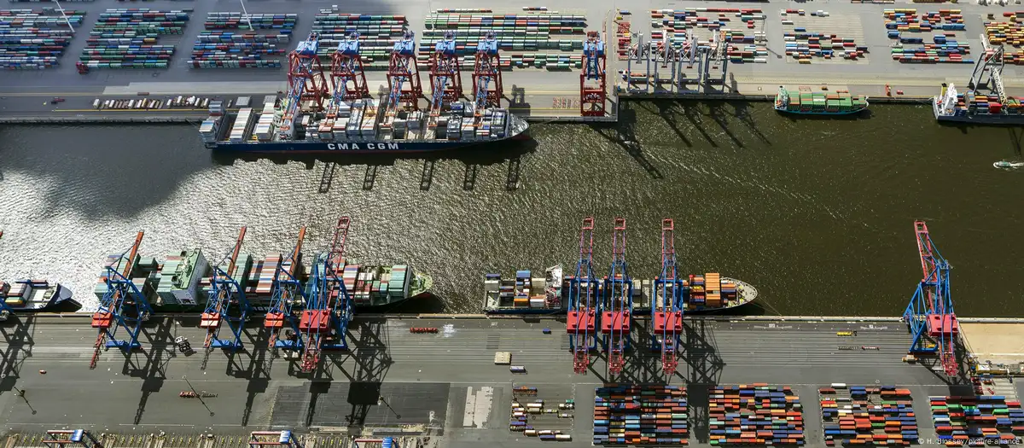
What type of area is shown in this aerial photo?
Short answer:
port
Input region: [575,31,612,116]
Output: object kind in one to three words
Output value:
container crane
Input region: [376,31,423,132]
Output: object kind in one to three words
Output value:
container crane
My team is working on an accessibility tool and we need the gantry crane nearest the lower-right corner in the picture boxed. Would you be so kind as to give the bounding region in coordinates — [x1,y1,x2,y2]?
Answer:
[899,222,961,377]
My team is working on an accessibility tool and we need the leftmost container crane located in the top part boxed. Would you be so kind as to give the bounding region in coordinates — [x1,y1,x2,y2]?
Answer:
[270,31,326,132]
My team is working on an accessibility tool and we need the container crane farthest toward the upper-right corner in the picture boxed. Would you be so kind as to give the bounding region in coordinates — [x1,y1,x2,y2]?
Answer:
[964,30,1011,99]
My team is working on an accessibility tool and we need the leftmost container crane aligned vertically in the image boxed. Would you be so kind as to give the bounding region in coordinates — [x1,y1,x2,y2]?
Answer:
[84,231,159,369]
